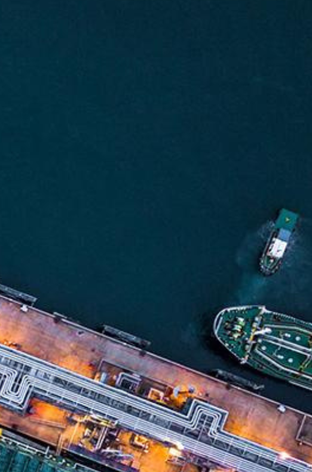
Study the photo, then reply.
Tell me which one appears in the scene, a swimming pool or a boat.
boat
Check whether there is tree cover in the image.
No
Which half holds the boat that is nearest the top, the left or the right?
right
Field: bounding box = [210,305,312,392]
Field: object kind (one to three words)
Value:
ship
